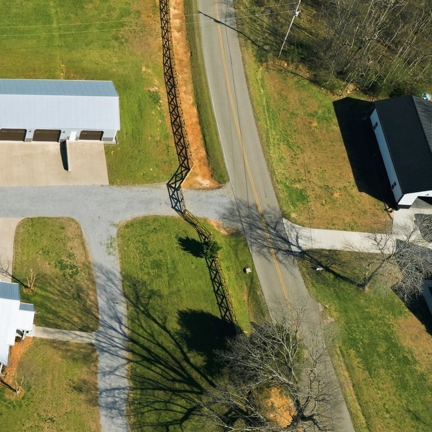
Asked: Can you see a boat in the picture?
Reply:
No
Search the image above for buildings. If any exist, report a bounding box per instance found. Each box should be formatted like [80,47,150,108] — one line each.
[0,280,34,381]
[0,78,121,144]
[416,260,432,307]
[350,87,432,206]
